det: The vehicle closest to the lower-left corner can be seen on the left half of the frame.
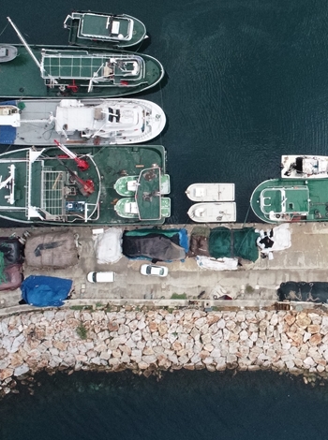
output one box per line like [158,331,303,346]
[88,270,116,283]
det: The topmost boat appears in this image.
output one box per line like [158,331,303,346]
[65,11,148,46]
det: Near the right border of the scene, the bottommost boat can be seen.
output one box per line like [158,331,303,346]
[250,179,328,223]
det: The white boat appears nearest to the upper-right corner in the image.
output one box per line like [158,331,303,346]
[279,156,328,178]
